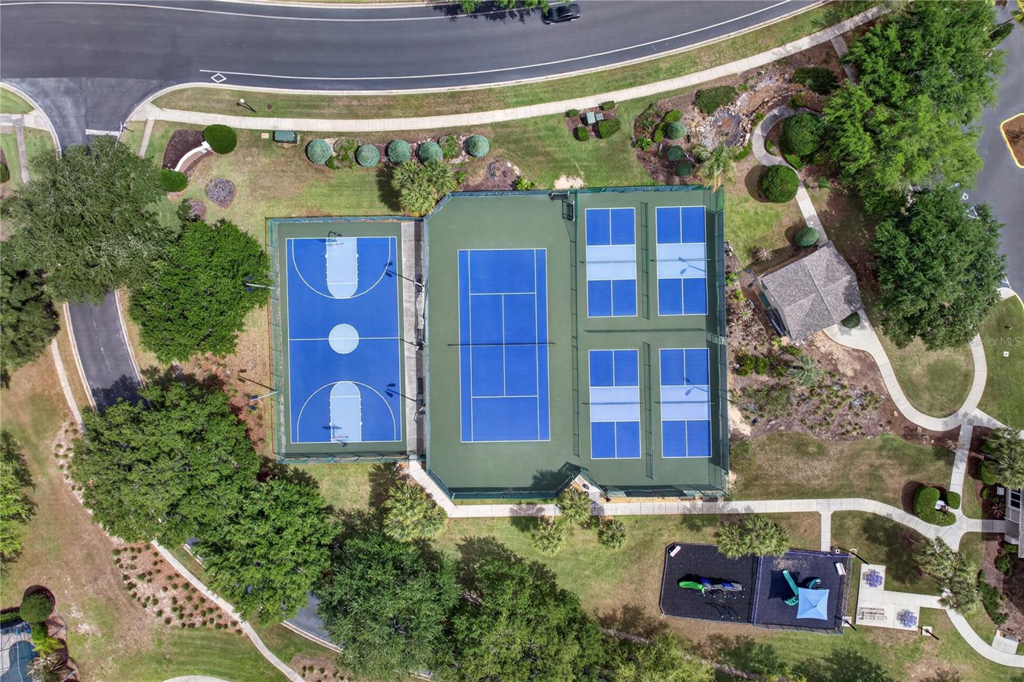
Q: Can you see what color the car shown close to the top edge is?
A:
black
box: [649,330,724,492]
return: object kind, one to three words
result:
sports court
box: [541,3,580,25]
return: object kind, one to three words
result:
car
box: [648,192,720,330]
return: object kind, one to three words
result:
sports court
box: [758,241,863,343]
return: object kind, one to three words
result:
shed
